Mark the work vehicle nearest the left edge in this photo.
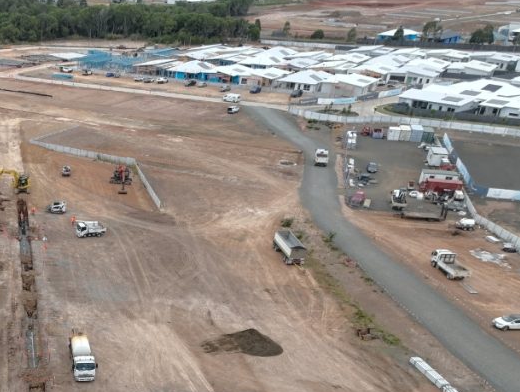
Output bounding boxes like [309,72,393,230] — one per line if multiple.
[0,166,37,194]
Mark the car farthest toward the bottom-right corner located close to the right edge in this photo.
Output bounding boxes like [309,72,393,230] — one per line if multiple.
[495,315,520,330]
